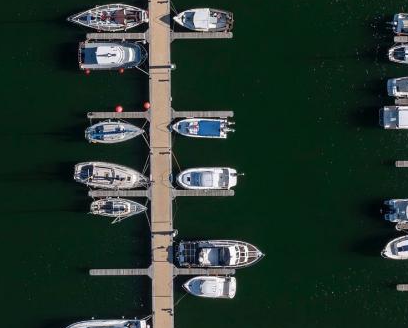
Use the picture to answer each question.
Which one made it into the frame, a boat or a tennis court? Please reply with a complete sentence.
The image shows a boat.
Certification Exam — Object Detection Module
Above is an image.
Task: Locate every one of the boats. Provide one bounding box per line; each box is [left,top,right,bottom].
[171,117,231,138]
[387,76,408,98]
[173,153,241,190]
[175,272,237,308]
[389,41,408,64]
[171,1,235,34]
[64,313,152,328]
[86,117,149,148]
[378,105,408,128]
[387,198,408,222]
[74,155,152,196]
[390,13,408,37]
[91,195,151,229]
[79,39,149,73]
[175,238,264,268]
[66,4,149,35]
